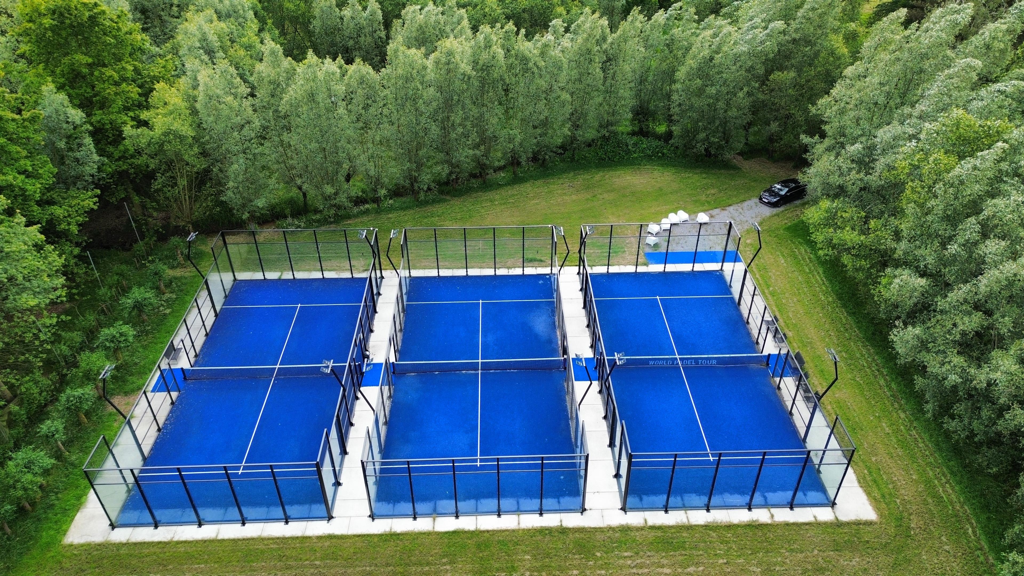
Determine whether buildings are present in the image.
No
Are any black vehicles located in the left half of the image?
No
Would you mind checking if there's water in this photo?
No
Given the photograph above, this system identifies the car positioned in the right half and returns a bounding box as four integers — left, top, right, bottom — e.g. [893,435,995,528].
[760,176,810,206]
